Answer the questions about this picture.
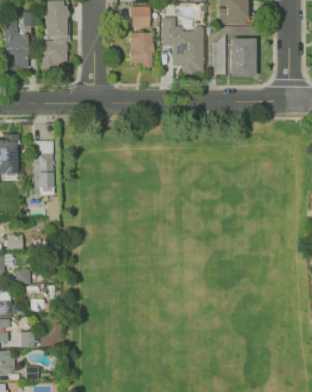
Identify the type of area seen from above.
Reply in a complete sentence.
It's a sports ground.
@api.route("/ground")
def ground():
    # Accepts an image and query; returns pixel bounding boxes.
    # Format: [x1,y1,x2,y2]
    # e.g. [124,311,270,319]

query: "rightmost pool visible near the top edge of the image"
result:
[175,6,198,18]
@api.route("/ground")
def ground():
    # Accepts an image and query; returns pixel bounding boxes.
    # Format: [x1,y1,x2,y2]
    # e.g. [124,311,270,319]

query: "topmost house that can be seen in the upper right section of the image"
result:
[219,0,250,26]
